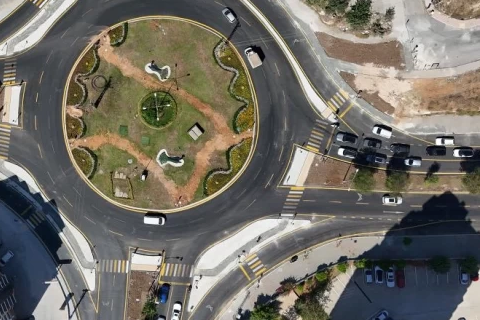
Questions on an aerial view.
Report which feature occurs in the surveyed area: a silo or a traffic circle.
traffic circle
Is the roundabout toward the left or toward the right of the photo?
left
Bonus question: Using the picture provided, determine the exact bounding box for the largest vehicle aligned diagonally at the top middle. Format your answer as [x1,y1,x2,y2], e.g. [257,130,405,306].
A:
[244,45,263,69]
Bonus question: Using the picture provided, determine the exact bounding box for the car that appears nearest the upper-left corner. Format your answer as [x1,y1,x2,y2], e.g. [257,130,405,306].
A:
[222,7,236,23]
